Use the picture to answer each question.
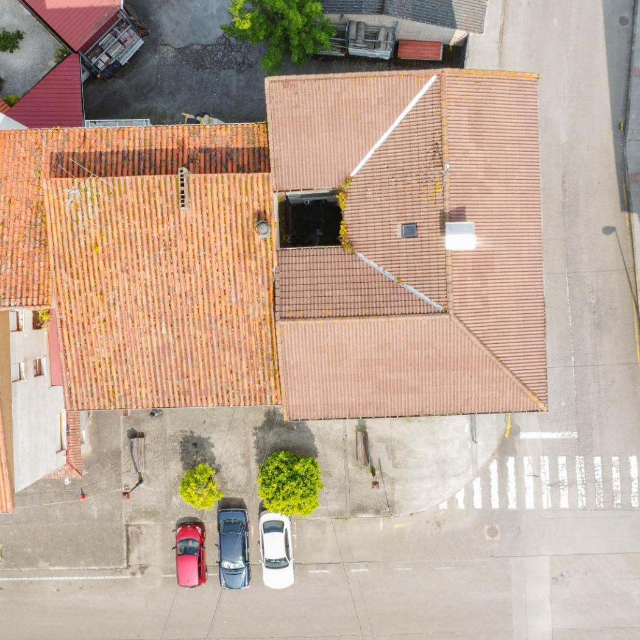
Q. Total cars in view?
3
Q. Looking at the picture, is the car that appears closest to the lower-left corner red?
Yes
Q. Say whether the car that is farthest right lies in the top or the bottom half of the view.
bottom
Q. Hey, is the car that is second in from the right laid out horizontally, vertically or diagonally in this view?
vertically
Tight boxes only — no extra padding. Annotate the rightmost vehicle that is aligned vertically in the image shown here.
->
[259,510,296,586]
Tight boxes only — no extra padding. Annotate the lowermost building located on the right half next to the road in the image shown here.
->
[264,67,551,425]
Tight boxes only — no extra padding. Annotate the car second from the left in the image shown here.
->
[216,507,251,587]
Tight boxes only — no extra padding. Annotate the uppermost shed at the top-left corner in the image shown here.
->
[26,0,133,67]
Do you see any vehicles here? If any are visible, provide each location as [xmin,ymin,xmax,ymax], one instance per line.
[174,521,208,587]
[259,510,296,586]
[216,507,251,587]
